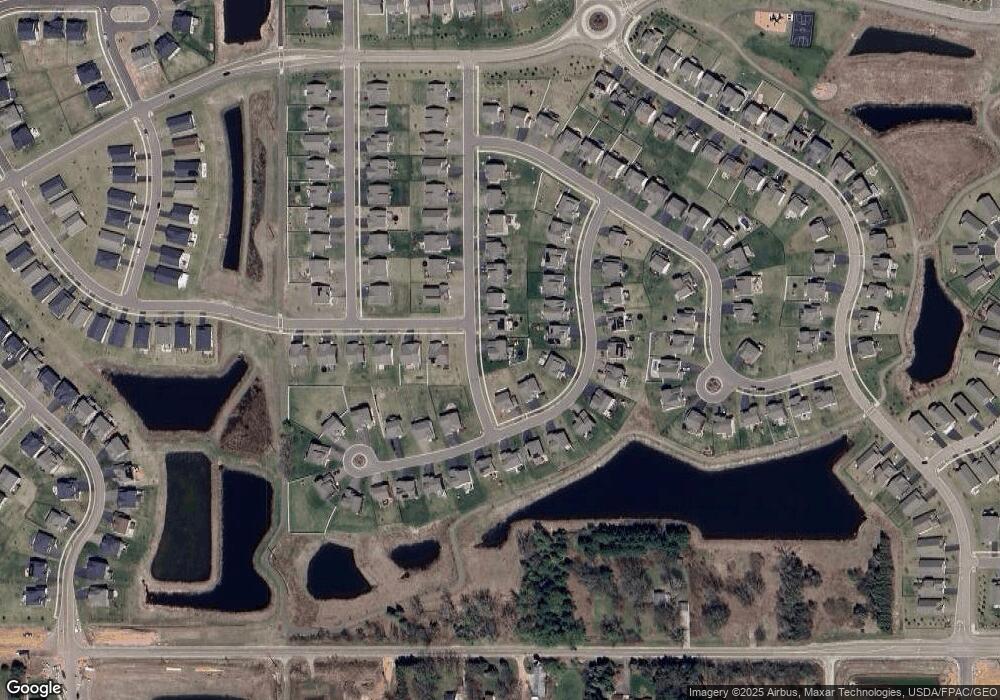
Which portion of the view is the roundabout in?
top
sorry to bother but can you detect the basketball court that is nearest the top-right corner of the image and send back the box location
[791,12,815,47]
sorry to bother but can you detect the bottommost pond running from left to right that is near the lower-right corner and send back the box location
[849,671,944,700]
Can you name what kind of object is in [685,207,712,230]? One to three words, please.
house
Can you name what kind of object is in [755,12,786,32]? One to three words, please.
playground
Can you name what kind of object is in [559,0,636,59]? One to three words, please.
roundabout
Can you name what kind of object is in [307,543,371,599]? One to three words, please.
pond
